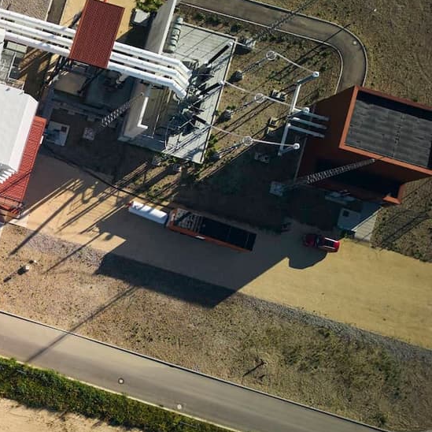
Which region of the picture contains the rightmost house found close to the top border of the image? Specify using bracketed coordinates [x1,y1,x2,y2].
[38,0,126,93]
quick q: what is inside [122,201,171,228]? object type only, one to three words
trailer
